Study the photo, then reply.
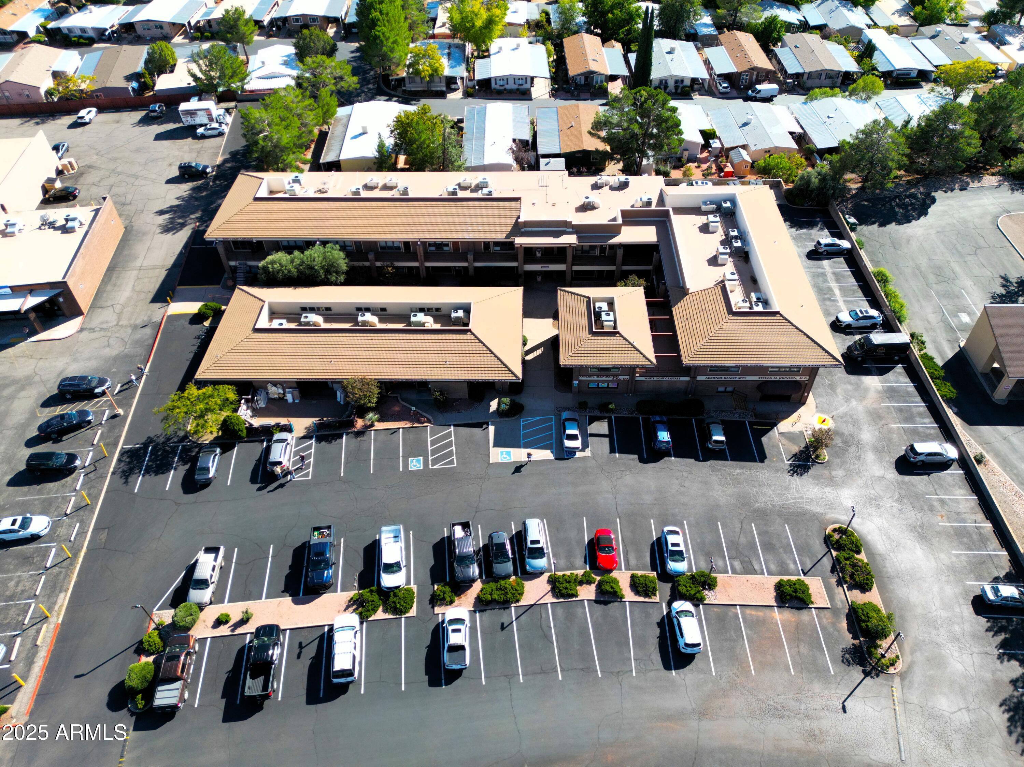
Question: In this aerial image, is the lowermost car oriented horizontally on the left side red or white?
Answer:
white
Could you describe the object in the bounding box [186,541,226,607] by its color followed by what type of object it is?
white truck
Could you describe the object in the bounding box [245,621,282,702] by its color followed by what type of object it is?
black truck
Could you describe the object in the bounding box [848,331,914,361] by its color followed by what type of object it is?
black van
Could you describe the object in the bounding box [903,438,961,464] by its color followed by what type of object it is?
white car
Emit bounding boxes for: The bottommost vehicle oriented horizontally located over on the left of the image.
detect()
[0,514,50,543]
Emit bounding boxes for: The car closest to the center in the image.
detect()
[560,413,582,452]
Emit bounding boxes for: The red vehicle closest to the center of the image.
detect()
[594,527,619,571]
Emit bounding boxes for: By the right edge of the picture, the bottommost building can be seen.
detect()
[962,305,1024,404]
